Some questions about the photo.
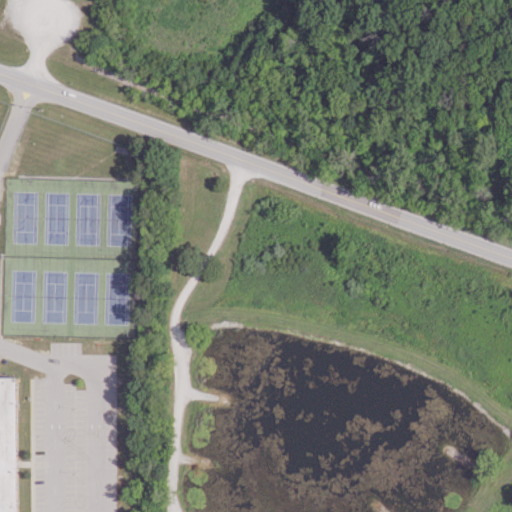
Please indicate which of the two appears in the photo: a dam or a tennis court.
tennis court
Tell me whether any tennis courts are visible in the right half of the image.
No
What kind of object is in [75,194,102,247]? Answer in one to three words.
tennis court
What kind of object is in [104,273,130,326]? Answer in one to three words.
tennis court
